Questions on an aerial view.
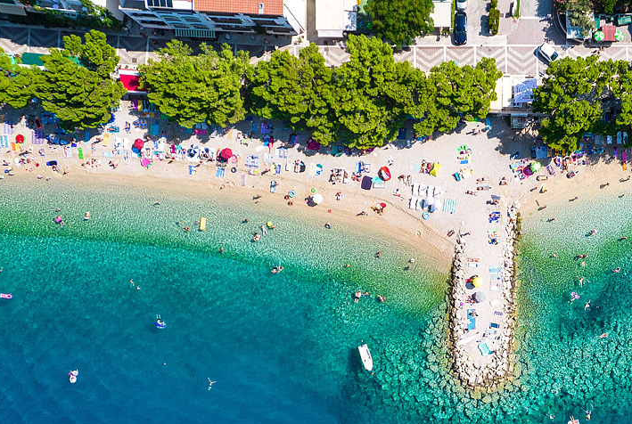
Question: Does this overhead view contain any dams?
No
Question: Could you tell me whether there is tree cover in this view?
Yes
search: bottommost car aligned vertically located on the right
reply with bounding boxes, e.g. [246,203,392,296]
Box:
[451,8,468,44]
